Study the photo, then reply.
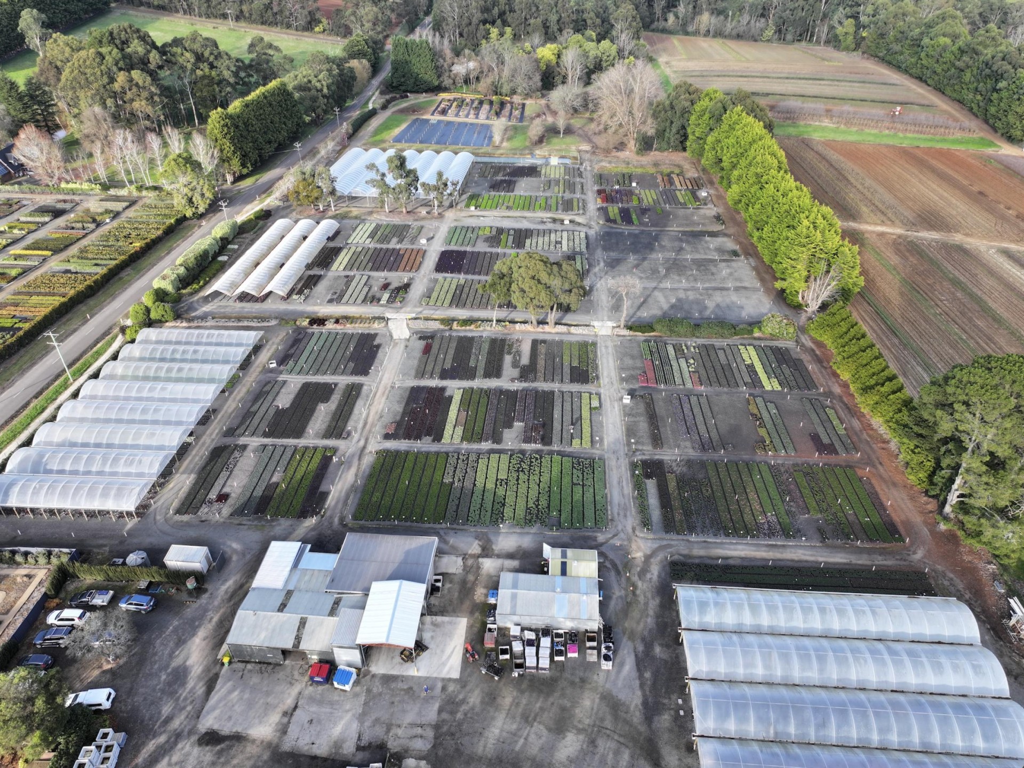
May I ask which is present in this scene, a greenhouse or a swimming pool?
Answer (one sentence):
Visible in the photo is a greenhouse.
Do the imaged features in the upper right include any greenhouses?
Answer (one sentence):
No, no greenhouse can be made out in the upper right.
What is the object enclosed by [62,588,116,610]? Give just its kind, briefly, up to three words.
truck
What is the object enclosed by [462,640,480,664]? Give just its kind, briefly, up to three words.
work vehicle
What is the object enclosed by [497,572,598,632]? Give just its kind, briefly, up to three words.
shed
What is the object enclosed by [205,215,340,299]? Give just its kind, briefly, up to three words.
greenhouse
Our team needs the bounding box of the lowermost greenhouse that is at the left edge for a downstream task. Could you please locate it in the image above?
[0,323,266,522]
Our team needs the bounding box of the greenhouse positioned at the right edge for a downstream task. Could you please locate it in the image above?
[671,580,1024,768]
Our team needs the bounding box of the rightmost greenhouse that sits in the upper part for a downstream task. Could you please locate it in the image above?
[310,146,475,202]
